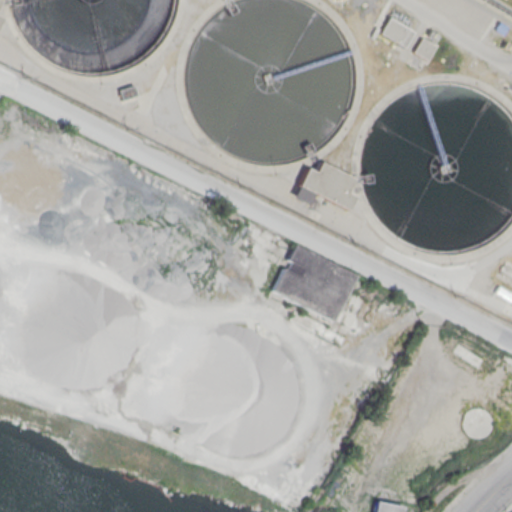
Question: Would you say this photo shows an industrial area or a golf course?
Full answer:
This image shows an industrial area.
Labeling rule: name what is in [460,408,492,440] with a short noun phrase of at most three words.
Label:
storage tank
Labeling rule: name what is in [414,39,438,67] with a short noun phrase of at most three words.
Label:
building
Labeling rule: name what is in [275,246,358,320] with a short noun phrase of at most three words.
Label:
building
